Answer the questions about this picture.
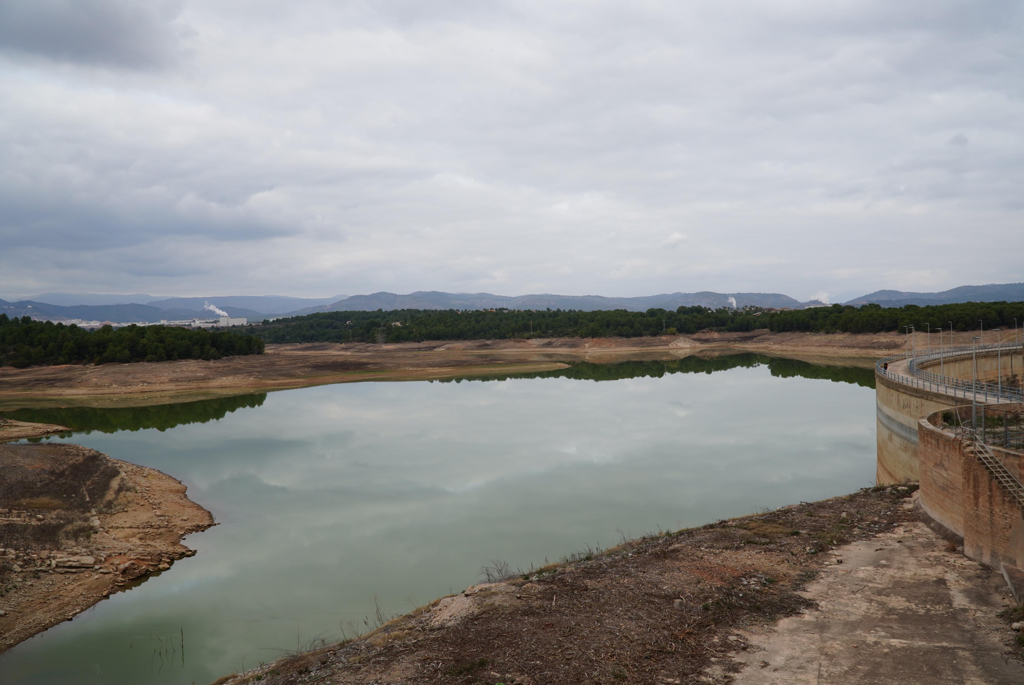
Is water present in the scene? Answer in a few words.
Yes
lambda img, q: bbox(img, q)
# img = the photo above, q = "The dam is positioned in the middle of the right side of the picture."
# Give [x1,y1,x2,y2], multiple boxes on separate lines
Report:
[874,346,1024,482]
